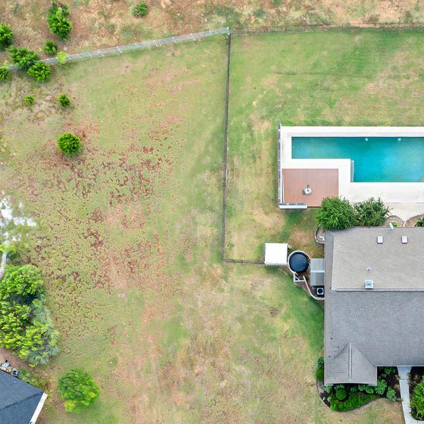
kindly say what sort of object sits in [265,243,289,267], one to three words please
shed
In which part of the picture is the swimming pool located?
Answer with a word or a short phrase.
right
